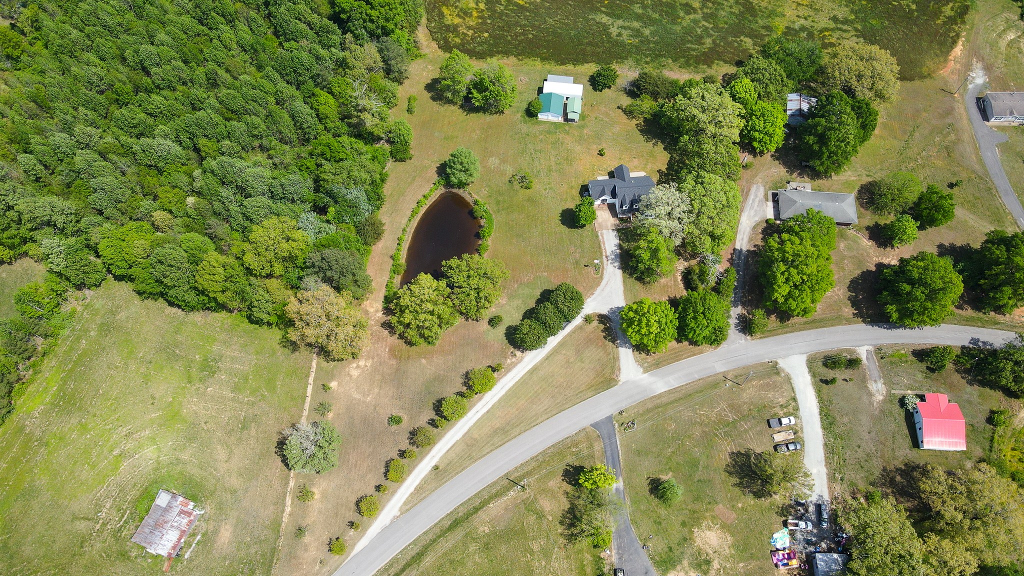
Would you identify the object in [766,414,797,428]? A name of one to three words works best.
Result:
vehicle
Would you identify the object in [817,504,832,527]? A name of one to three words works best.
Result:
car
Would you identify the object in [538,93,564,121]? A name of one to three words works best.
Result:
building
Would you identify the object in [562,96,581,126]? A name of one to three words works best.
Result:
shed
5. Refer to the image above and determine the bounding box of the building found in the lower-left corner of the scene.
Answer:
[130,493,202,559]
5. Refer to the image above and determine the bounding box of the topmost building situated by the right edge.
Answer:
[981,87,1024,123]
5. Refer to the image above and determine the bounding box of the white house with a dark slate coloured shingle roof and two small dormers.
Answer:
[587,162,659,229]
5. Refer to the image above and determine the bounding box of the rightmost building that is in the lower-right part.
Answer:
[913,393,971,450]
